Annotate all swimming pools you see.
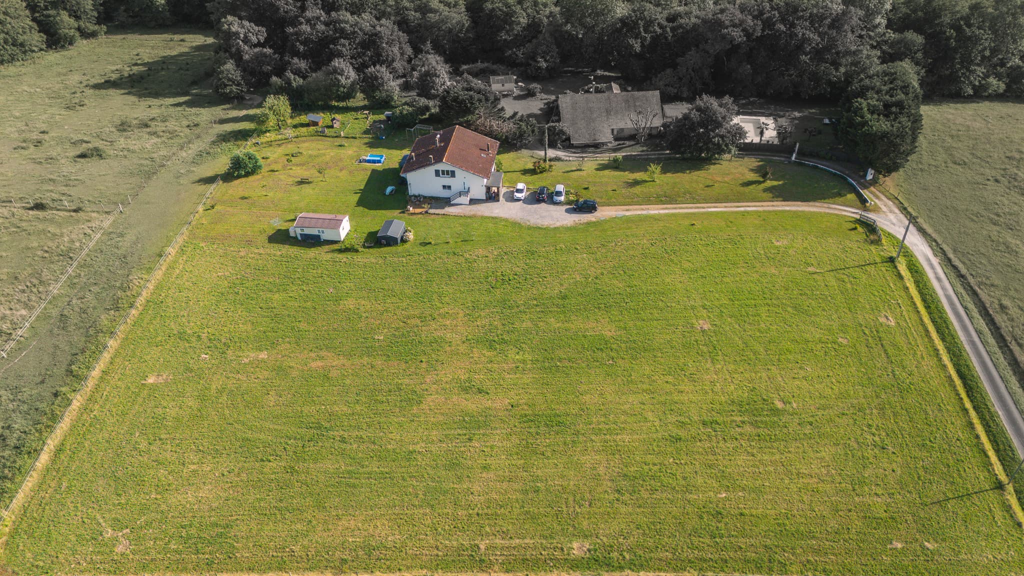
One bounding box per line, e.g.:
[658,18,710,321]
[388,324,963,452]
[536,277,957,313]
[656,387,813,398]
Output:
[366,154,384,163]
[733,115,780,144]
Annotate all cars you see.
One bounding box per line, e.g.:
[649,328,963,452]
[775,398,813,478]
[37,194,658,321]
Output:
[513,182,526,199]
[536,186,548,200]
[571,197,599,212]
[552,184,564,202]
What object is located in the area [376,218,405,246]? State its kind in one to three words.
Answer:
shed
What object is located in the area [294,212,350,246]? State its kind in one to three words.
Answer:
building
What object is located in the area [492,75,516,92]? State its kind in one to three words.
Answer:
shed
